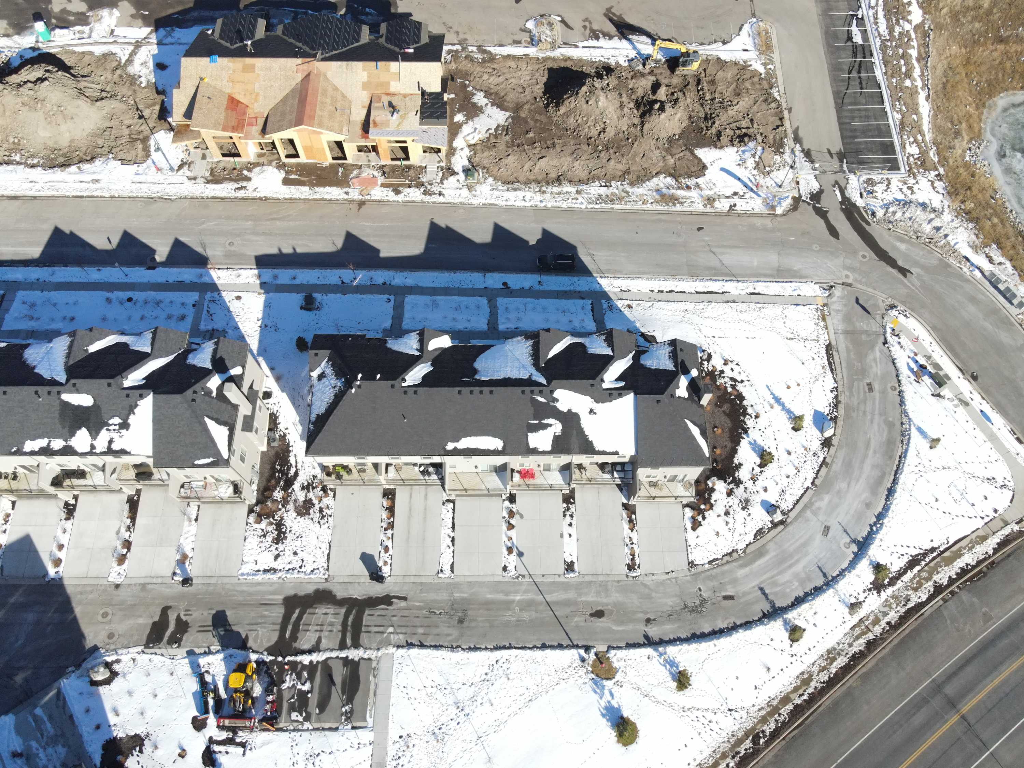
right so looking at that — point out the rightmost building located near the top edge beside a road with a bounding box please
[171,13,450,162]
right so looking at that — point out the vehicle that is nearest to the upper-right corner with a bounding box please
[649,30,707,79]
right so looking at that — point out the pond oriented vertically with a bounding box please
[980,93,1024,218]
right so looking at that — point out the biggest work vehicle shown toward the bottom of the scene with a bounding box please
[219,656,259,723]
